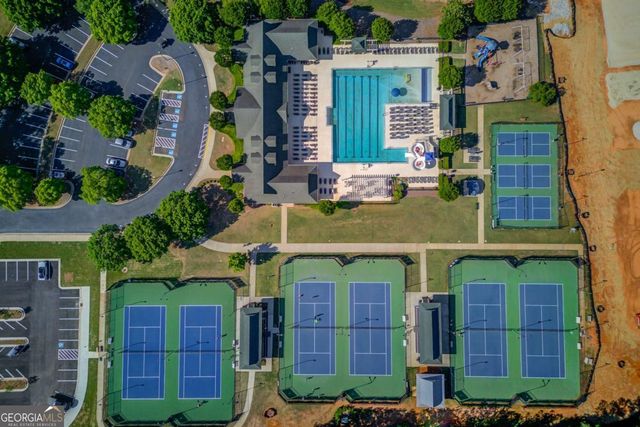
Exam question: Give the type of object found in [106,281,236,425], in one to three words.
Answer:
tennis court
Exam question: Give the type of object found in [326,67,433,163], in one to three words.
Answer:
swimming pool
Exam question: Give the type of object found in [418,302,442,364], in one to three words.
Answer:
building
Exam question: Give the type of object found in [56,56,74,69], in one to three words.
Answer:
vehicle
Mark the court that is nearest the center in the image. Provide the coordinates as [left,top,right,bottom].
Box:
[279,257,406,401]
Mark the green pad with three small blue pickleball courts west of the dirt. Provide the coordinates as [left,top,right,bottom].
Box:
[491,123,559,228]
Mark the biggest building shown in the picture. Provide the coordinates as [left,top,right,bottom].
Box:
[229,20,318,204]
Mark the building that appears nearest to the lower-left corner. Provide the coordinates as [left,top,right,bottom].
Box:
[241,306,263,370]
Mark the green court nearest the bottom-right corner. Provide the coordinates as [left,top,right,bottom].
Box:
[449,258,580,406]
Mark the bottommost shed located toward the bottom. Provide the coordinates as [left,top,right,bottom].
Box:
[415,372,445,413]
